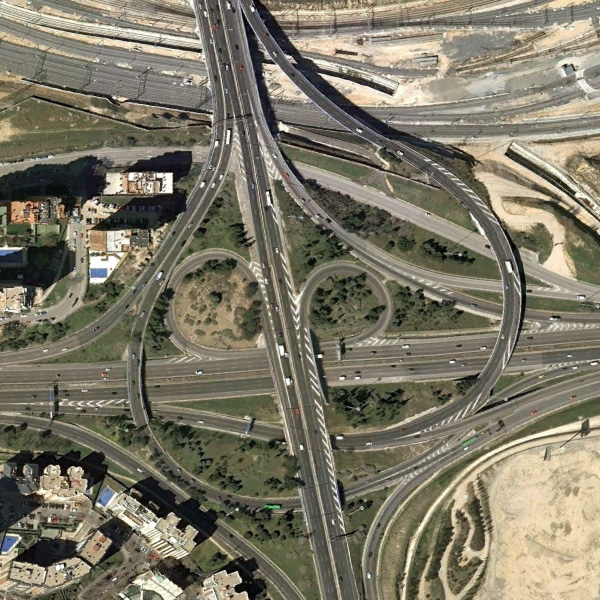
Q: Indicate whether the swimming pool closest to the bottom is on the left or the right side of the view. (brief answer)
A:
left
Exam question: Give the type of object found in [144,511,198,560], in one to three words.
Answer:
building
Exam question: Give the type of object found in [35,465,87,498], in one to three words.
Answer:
building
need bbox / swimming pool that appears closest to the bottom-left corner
[0,533,23,555]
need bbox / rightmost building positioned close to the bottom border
[198,570,250,600]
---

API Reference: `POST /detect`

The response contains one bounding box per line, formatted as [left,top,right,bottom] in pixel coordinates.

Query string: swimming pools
[0,246,27,266]
[0,533,23,555]
[90,254,128,283]
[95,484,119,509]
